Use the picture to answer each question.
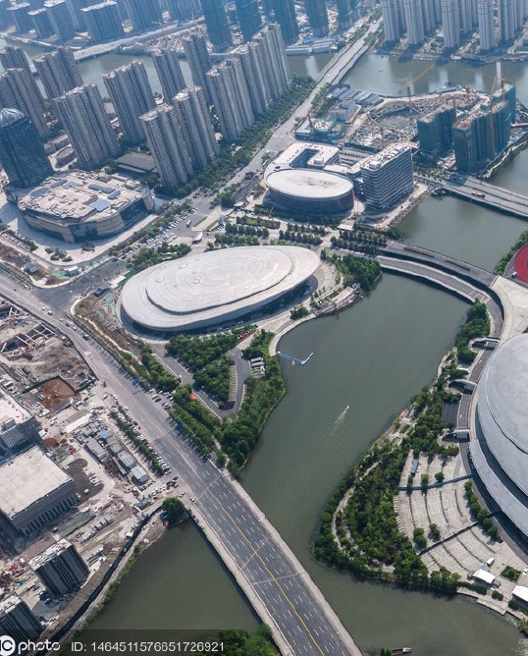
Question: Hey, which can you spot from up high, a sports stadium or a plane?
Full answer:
It is a sports stadium that can be seen here.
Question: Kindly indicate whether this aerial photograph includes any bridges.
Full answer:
Yes, I can see a bridge in this picture.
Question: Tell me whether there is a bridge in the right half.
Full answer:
Yes, a bridge is visible in the right half.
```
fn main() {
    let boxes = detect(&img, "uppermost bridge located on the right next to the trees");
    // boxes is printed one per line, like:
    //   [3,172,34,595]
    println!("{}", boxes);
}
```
[308,46,370,102]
